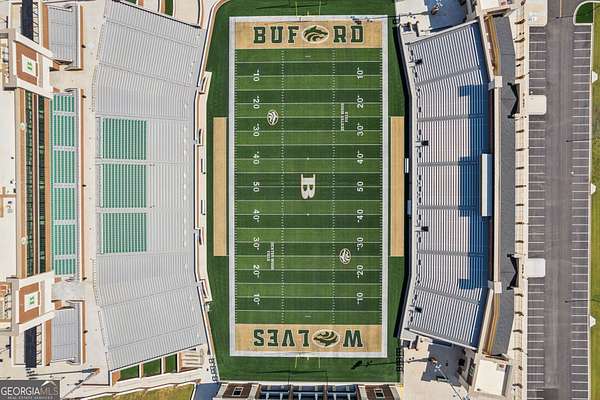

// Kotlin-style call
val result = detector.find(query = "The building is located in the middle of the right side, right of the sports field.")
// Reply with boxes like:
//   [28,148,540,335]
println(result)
[465,8,523,362]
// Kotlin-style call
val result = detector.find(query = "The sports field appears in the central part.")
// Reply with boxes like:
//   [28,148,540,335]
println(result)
[213,16,404,355]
